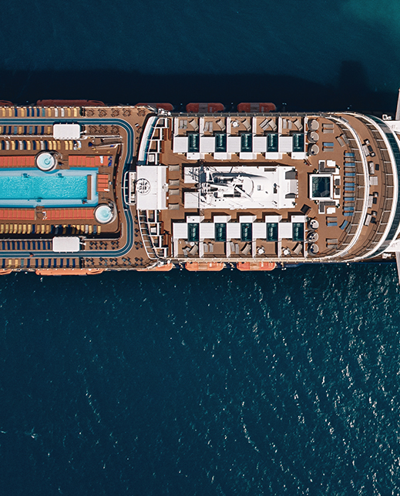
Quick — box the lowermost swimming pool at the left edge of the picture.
[0,167,98,207]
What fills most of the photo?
water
